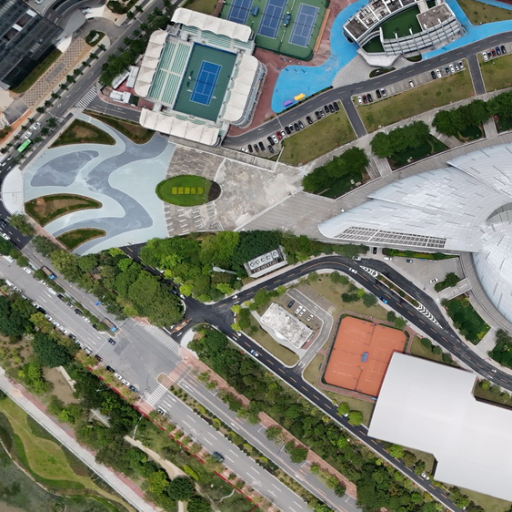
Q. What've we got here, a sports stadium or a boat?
sports stadium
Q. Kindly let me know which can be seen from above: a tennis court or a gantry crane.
tennis court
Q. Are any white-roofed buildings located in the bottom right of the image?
Yes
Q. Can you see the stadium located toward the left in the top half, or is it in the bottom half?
top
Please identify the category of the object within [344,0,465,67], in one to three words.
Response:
building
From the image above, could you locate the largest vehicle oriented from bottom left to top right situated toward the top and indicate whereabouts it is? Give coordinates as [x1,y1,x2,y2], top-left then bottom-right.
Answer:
[10,135,33,155]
